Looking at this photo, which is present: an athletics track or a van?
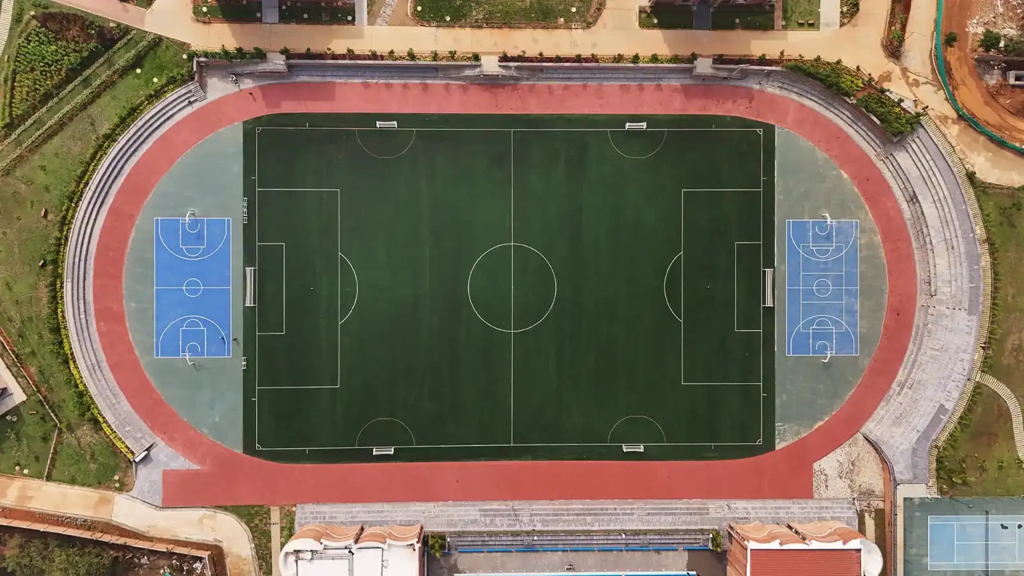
athletics track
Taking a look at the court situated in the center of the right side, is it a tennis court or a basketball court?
basketball court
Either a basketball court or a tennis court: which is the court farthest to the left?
basketball court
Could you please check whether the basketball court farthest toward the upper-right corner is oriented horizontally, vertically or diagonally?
vertically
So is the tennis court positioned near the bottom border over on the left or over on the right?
right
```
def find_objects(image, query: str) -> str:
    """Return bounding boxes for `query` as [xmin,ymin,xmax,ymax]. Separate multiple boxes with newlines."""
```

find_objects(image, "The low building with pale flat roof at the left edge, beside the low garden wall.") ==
[0,343,37,416]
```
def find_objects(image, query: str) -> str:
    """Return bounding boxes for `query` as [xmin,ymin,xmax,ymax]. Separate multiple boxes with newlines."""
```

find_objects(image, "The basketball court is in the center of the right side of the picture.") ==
[775,125,888,450]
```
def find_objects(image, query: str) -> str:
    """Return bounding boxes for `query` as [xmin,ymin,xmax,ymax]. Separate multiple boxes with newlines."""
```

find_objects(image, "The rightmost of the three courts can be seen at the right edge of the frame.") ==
[903,497,1024,576]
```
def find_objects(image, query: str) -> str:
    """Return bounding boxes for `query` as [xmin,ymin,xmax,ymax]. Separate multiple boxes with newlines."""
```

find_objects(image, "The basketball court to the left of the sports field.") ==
[124,123,243,452]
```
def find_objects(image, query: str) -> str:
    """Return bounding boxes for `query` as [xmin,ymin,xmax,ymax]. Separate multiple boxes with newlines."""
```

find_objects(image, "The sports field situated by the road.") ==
[243,114,775,461]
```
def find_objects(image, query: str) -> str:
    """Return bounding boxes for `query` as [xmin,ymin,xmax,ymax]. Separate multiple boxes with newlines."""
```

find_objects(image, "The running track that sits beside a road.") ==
[93,83,919,506]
